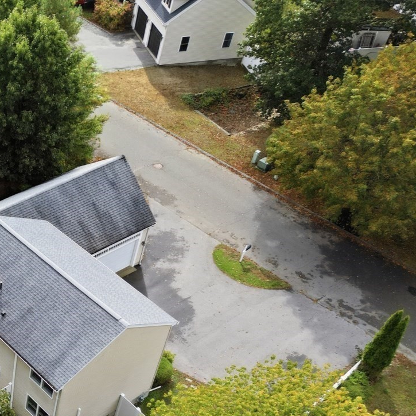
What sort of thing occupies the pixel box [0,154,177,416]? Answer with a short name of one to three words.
house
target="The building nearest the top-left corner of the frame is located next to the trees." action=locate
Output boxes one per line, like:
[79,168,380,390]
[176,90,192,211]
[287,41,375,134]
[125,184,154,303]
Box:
[120,0,257,65]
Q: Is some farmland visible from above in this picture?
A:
No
